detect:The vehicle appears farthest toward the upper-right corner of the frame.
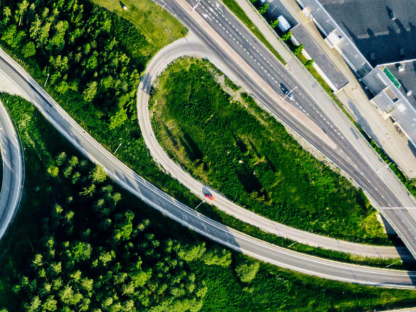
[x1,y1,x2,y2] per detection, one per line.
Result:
[277,11,292,32]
